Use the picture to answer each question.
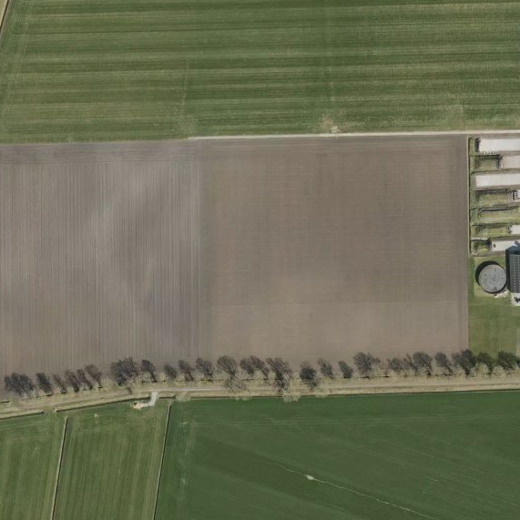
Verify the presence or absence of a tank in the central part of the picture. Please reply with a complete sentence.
No, I can find no tank in the central part of the picture.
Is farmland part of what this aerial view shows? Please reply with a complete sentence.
Yes, there's farmland in this view.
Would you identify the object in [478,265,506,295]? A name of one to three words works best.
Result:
storage tank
